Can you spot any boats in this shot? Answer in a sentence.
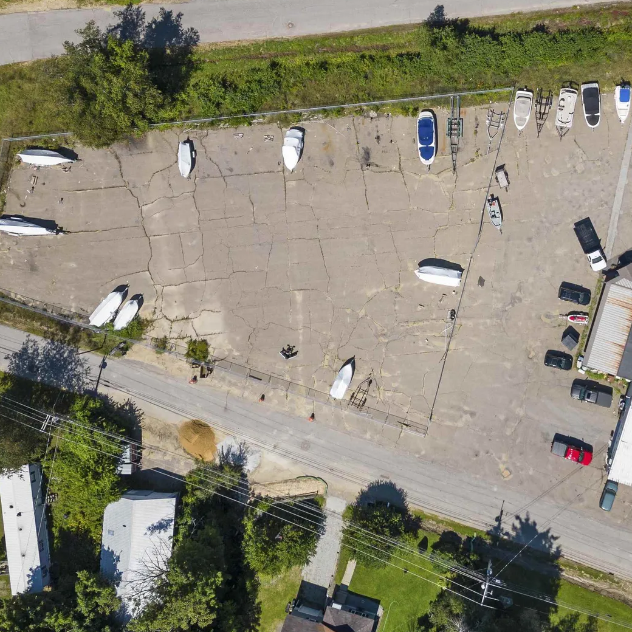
Yes, the photo shows a boat.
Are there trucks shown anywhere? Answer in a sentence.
Yes, there is a truck in the image.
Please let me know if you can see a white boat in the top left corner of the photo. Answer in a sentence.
Yes, looking in the top left corner of the photo, one can make out a white boat.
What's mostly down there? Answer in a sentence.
For the most part, this view shows paved ground.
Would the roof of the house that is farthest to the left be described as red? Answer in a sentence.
No, the color of the roof of the house that is farthest to the left is white.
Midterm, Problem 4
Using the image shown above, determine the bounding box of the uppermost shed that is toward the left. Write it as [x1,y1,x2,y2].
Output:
[117,440,146,475]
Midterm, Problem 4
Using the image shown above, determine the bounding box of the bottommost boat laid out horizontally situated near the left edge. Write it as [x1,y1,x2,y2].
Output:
[0,217,59,238]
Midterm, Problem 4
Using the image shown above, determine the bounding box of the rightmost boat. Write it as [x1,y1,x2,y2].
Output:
[616,81,631,123]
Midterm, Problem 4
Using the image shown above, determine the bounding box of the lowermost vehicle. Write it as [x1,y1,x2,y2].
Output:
[600,477,618,510]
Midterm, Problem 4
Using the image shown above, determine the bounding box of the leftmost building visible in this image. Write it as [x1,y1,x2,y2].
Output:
[0,460,56,594]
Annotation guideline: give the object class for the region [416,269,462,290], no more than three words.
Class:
boat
